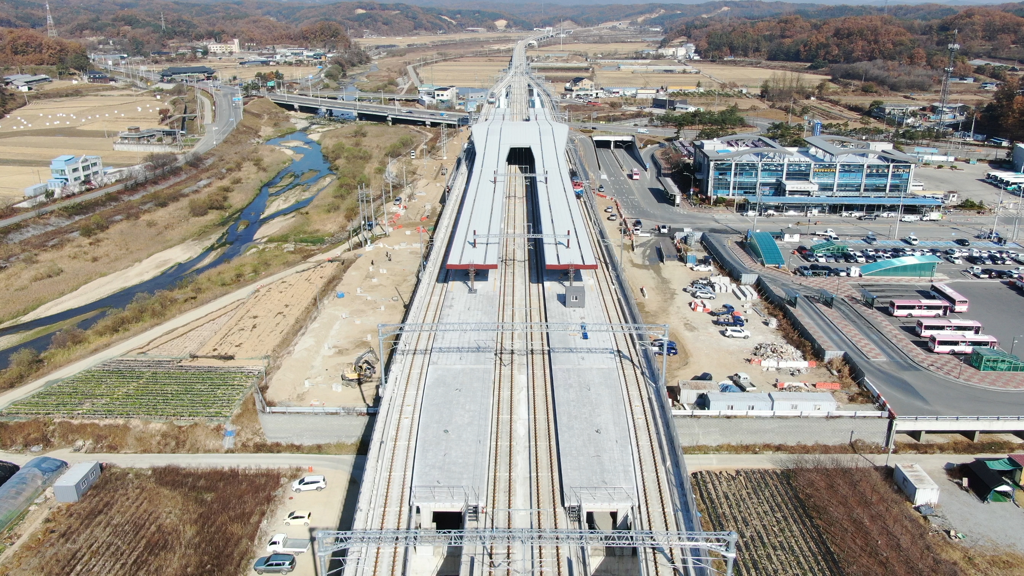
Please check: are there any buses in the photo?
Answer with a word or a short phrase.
Yes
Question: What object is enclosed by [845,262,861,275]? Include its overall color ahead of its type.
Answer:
white vehicle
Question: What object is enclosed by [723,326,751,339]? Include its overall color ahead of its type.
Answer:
white vehicle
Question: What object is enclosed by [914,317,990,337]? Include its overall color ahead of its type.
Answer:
white bus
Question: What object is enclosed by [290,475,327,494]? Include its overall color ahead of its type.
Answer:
white car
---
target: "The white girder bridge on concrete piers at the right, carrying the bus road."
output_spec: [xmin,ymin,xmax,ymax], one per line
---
[851,377,1024,464]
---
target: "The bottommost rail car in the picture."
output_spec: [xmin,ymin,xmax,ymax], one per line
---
[570,168,587,198]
